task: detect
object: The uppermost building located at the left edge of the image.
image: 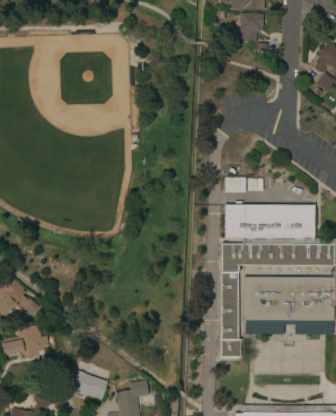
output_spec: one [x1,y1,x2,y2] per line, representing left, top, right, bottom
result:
[0,276,42,318]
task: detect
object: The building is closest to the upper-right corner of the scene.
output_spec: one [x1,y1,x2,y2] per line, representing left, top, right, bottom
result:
[313,40,336,72]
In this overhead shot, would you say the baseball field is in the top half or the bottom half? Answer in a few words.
top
